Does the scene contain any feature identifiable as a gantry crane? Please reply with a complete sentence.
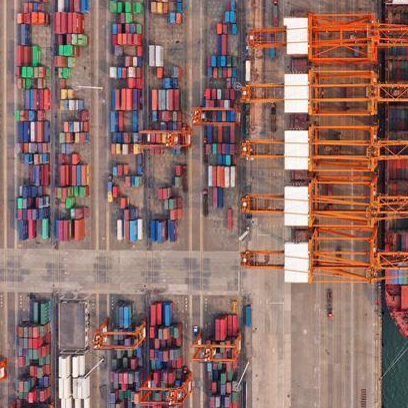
Yes, you can see a gantry crane in this photo.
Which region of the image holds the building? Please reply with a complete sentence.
The building is located in the bottom left region of the scene.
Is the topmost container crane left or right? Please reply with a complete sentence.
The topmost container crane appears in the right half of the scene.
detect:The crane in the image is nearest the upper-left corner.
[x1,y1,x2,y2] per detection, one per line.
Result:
[140,126,193,150]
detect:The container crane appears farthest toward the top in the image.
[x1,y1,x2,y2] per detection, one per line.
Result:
[248,12,408,67]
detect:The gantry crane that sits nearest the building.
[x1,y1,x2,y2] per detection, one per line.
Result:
[93,317,150,350]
